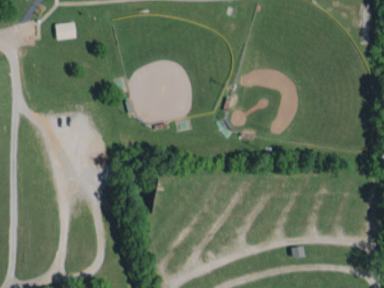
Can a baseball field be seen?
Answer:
Yes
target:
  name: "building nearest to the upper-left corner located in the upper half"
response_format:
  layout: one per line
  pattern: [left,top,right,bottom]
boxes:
[55,21,76,39]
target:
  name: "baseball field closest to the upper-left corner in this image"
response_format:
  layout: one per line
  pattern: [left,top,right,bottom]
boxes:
[114,15,232,124]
